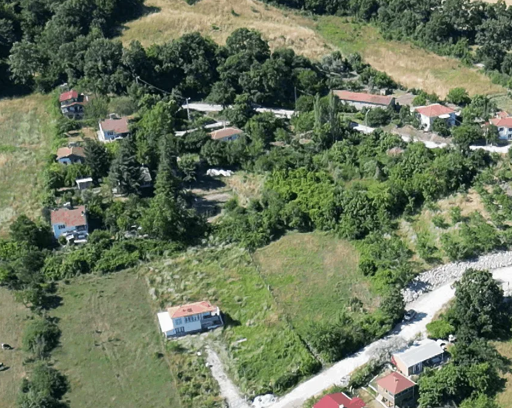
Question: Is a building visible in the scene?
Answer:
Yes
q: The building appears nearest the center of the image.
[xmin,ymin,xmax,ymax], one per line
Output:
[200,117,242,147]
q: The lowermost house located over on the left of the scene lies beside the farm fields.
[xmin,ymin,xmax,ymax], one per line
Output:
[155,295,222,340]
